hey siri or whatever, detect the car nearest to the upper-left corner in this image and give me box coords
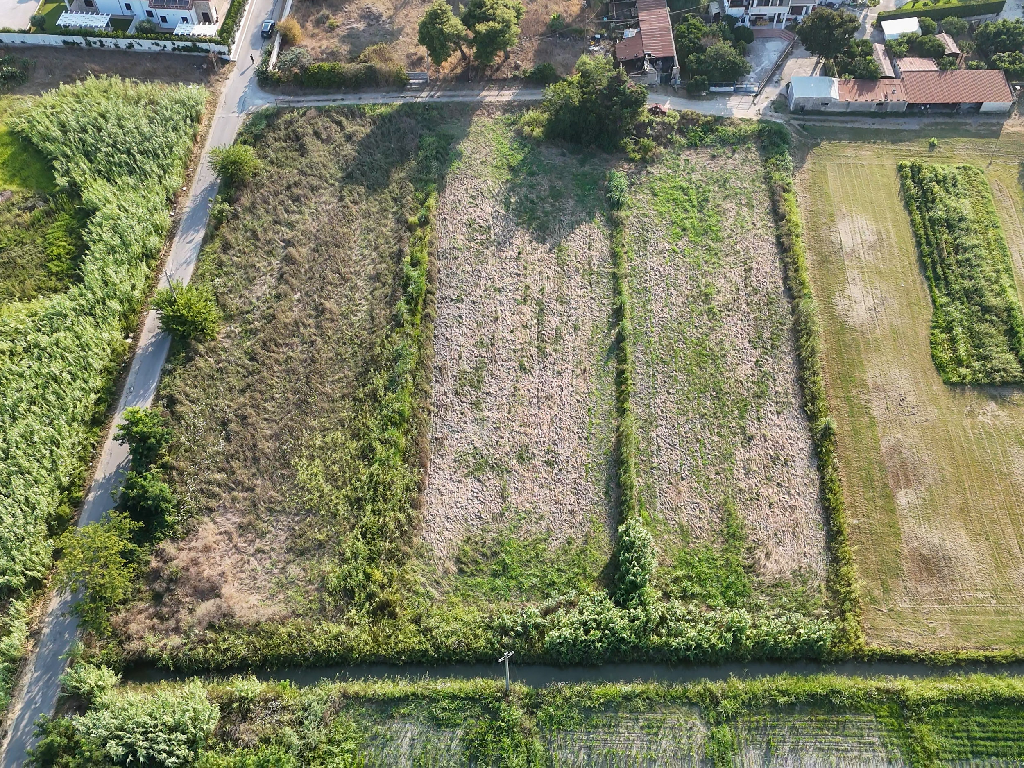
[260,13,278,35]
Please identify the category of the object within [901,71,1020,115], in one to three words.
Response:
barn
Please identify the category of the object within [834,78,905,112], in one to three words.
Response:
shed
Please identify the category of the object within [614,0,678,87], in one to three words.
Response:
shed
